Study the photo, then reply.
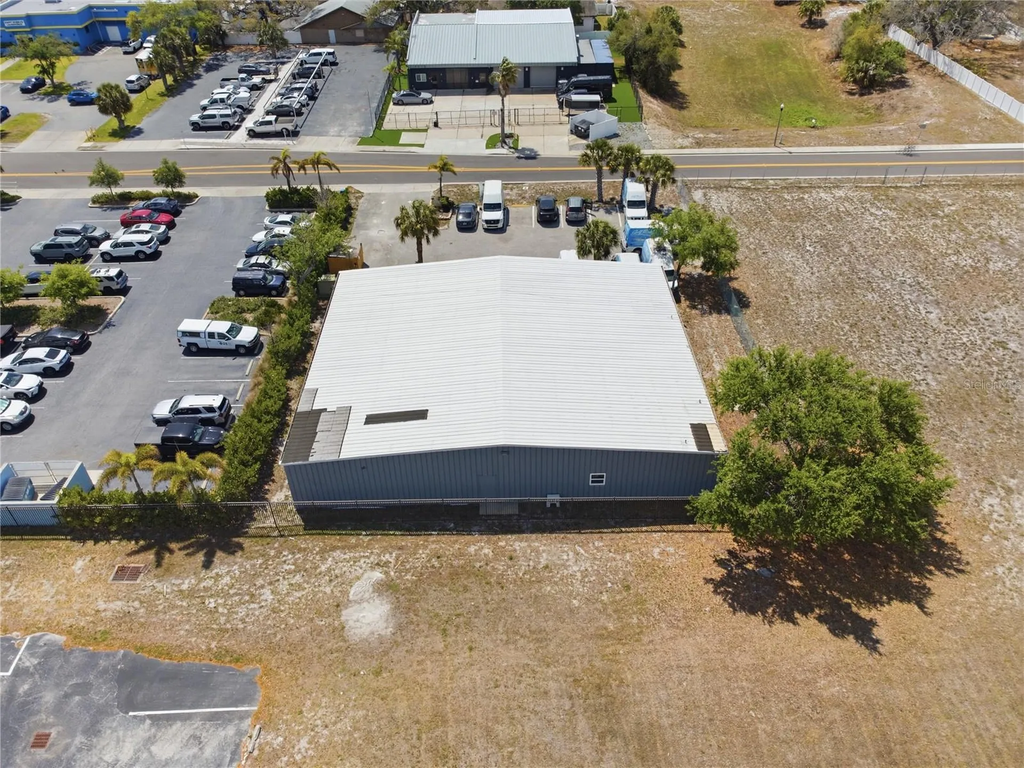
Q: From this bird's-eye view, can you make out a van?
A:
Yes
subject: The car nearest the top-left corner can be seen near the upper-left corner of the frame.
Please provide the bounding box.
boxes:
[17,76,56,91]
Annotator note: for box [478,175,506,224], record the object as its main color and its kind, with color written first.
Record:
white van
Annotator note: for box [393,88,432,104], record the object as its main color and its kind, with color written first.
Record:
gray car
